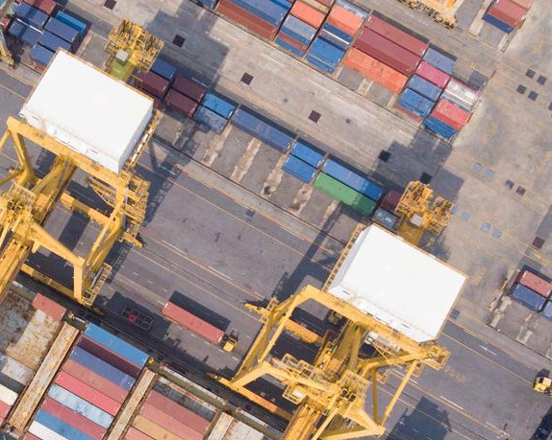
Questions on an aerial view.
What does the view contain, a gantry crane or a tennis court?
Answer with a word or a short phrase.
gantry crane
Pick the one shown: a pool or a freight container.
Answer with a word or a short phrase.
freight container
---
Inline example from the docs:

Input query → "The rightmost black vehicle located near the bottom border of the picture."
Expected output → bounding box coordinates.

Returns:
[534,414,552,440]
